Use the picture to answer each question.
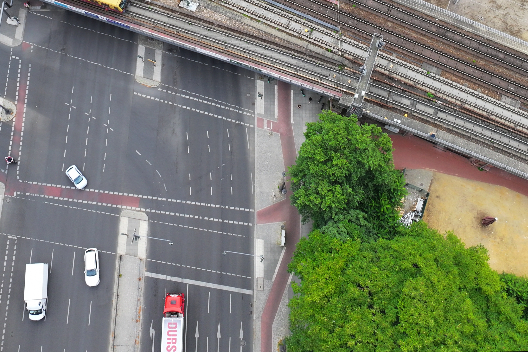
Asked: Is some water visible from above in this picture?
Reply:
No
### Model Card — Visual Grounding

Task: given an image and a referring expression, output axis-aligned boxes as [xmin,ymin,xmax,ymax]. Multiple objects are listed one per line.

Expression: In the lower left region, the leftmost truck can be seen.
[21,261,46,322]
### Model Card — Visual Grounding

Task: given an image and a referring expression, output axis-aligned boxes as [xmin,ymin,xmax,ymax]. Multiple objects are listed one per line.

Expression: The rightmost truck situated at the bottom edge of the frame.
[160,291,185,352]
